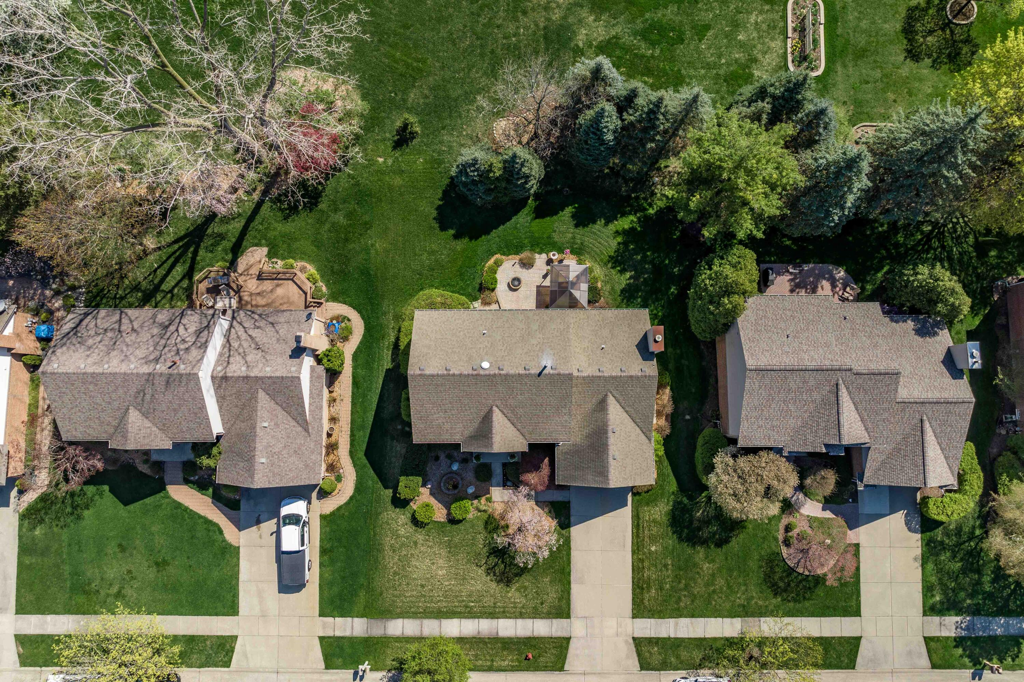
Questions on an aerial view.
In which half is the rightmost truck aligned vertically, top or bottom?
bottom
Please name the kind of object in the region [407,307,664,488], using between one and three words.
house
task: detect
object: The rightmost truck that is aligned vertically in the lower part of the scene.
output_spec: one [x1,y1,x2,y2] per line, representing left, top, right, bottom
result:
[272,496,310,588]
